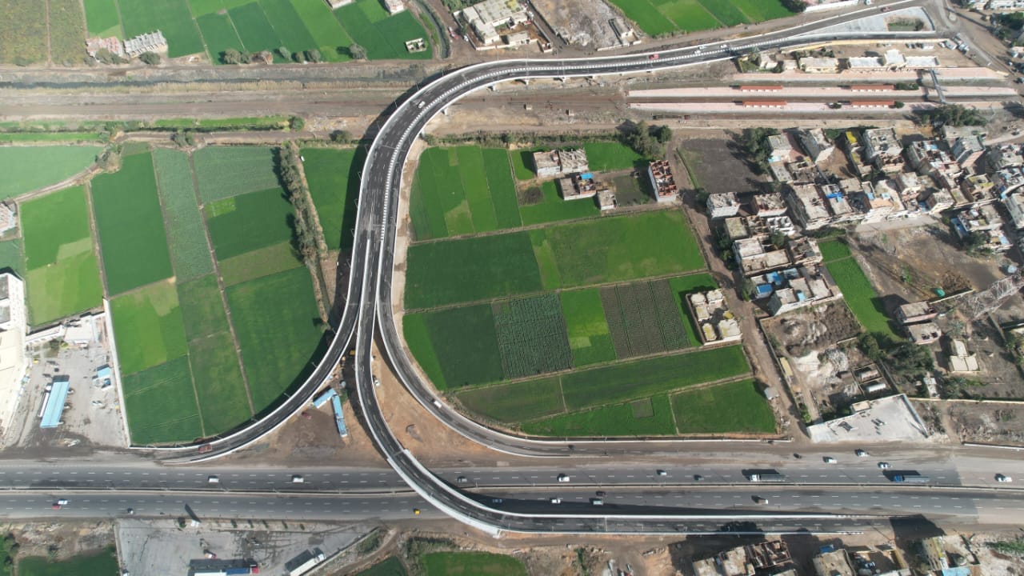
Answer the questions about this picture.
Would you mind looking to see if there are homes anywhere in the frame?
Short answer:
Yes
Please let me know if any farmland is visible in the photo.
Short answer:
Yes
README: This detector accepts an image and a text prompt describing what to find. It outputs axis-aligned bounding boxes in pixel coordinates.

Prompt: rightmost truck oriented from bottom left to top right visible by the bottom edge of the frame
[289,551,325,576]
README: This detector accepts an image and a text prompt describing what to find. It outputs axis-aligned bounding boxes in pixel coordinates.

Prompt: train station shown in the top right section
[629,68,1018,113]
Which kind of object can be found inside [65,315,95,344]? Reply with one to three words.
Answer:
building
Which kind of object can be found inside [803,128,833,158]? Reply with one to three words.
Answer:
house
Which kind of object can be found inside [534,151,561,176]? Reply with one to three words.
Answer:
house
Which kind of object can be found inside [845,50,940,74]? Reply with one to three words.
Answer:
building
